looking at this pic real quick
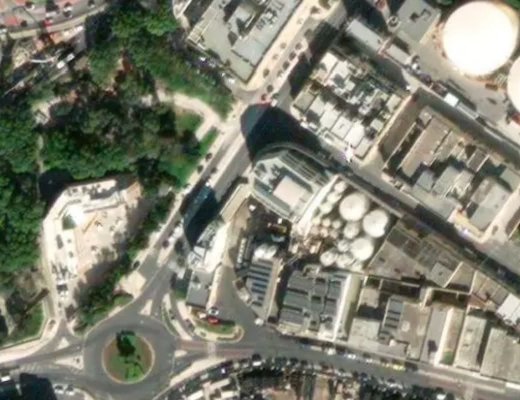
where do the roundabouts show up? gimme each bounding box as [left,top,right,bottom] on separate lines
[102,331,153,382]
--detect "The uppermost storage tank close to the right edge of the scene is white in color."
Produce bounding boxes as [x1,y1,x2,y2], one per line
[442,0,519,76]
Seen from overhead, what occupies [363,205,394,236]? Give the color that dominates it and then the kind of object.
white silo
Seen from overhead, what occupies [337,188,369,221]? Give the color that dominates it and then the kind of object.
white silo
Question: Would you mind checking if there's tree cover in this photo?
Yes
